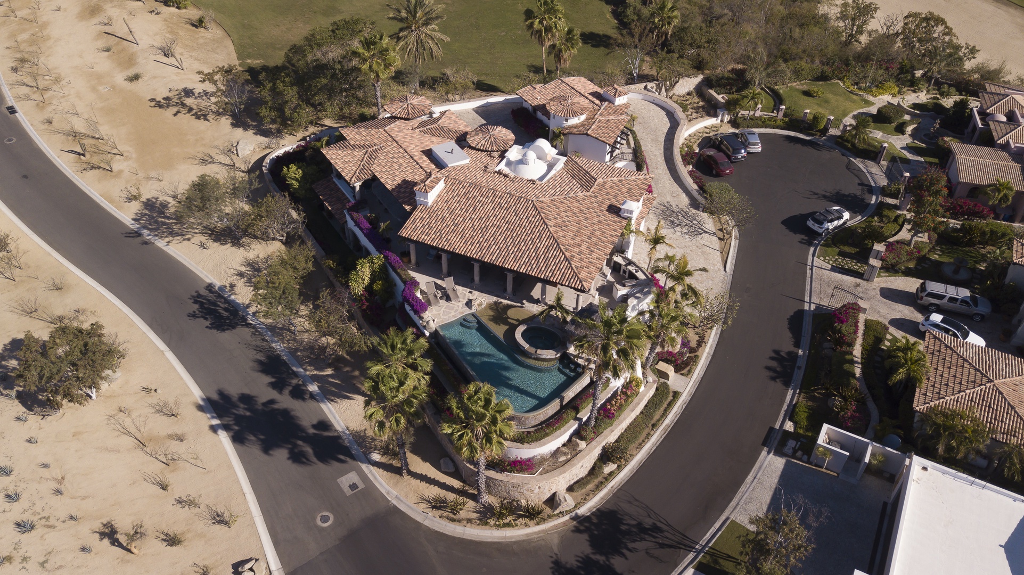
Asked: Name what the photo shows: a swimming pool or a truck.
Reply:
swimming pool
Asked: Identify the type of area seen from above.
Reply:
residential area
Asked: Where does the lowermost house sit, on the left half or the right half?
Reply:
right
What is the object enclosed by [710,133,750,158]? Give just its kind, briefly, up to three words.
car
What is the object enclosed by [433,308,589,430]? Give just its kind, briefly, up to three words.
swimming pool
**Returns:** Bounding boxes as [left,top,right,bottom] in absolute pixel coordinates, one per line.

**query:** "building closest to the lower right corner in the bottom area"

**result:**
[879,454,1024,575]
